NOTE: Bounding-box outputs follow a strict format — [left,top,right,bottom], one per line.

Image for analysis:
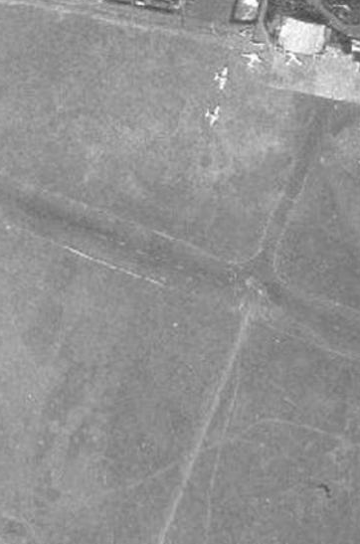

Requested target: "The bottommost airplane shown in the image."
[205,106,218,126]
